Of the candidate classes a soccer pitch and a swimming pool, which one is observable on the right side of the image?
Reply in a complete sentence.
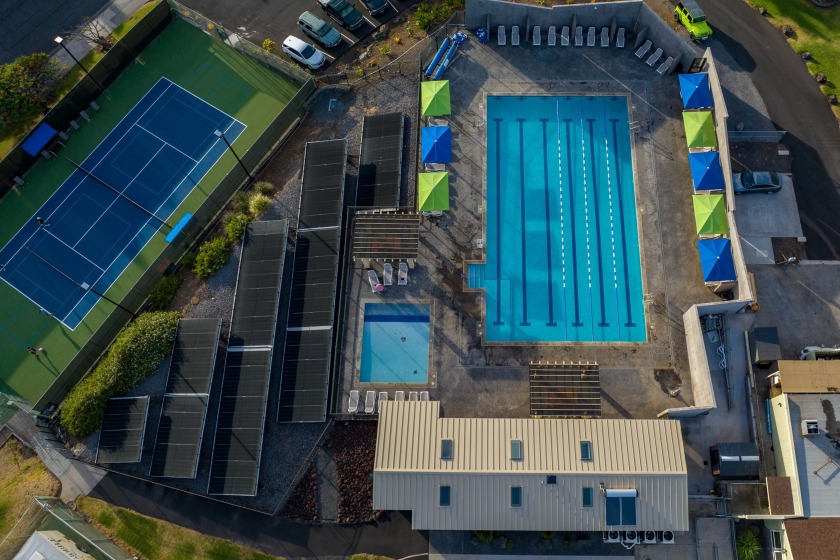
It is a swimming pool that can be seen on the right side of the image.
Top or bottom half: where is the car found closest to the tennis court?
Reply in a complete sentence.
The car found closest to the tennis court sits in the top half of the picture.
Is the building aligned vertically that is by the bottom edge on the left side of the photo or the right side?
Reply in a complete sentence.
You can find the building aligned vertically that is by the bottom edge on the right side of the picture.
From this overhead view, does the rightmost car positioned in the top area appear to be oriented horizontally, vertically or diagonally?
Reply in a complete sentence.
In this picture, the rightmost car positioned in the top area is oriented horizontally.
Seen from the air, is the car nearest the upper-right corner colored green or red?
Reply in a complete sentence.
The car nearest the upper-right corner is green.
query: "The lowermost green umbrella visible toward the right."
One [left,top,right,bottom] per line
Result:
[692,193,730,235]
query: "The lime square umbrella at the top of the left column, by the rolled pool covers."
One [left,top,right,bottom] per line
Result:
[420,81,452,116]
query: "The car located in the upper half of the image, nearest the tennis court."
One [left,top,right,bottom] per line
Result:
[281,32,326,70]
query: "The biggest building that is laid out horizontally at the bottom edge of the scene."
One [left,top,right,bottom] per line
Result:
[375,398,692,535]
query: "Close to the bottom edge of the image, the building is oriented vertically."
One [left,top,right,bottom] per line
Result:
[744,361,840,560]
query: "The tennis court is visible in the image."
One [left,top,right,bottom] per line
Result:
[0,17,301,412]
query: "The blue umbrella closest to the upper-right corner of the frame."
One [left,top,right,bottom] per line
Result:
[679,74,713,109]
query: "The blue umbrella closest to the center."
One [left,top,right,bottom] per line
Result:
[419,127,452,164]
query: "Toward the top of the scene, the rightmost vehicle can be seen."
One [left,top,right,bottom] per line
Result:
[733,167,792,195]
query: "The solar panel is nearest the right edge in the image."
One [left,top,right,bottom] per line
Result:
[354,112,405,208]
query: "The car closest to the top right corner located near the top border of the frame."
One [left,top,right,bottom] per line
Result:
[672,0,716,42]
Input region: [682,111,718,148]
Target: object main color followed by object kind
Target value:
green umbrella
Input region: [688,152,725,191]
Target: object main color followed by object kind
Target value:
blue umbrella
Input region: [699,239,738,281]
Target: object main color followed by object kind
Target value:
blue umbrella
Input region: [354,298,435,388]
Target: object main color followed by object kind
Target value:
blue swimming pool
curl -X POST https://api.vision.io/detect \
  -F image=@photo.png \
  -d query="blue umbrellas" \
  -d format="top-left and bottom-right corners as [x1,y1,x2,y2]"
[699,239,738,281]
[419,127,452,164]
[688,152,725,191]
[679,74,713,109]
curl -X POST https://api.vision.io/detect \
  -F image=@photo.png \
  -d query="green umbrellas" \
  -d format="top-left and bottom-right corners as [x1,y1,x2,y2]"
[420,81,452,116]
[682,111,718,148]
[692,193,730,235]
[417,172,449,211]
